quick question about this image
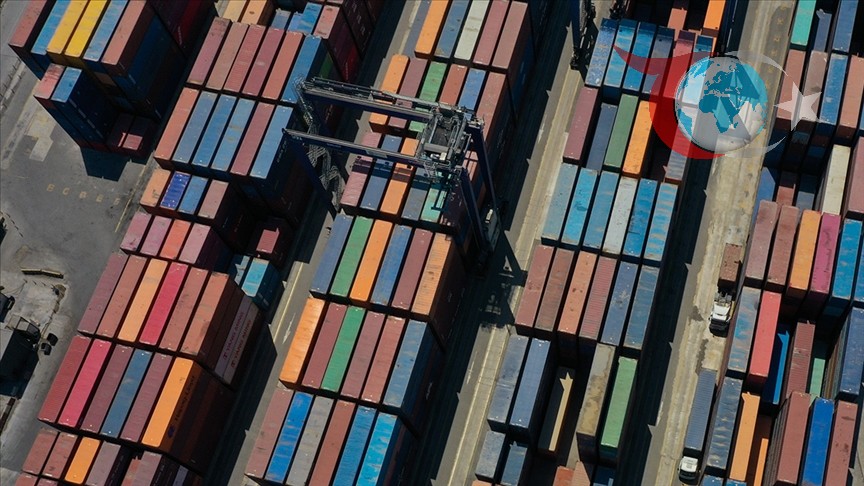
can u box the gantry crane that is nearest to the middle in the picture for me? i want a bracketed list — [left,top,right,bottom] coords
[268,78,507,269]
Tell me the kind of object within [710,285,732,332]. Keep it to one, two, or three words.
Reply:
truck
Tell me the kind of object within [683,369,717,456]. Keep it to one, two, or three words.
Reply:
shipping container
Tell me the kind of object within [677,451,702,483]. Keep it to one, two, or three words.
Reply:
truck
